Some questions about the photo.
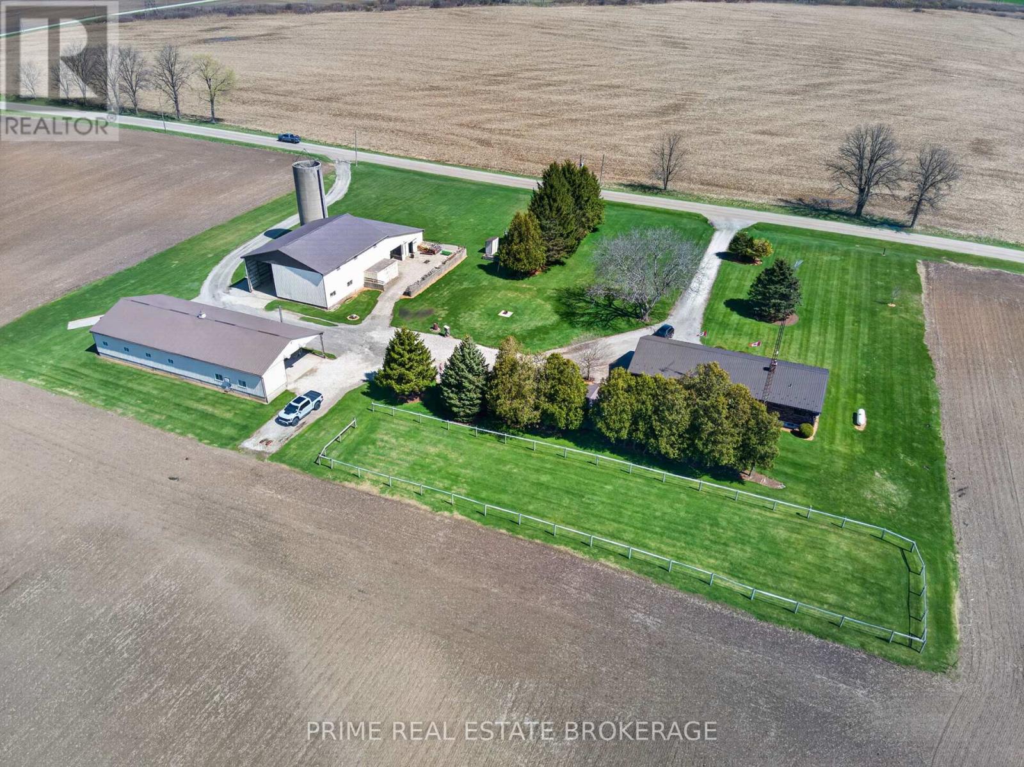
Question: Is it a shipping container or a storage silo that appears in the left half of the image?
storage silo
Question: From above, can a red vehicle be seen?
No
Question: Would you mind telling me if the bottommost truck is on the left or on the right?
left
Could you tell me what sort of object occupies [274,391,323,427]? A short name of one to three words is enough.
truck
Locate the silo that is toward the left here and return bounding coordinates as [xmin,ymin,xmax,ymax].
[292,150,328,226]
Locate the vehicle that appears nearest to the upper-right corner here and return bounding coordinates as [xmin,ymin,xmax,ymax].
[652,323,676,340]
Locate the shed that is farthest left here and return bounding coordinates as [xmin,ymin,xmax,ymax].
[86,293,325,404]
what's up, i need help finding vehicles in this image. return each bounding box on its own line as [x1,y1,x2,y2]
[275,131,300,142]
[274,391,323,427]
[652,323,676,340]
